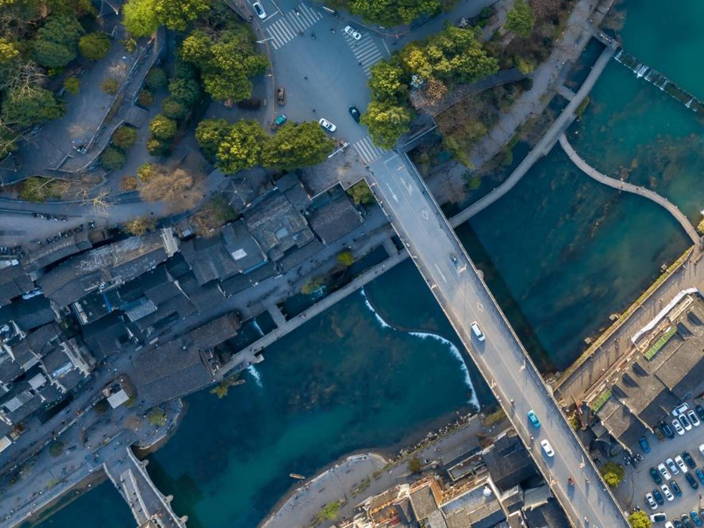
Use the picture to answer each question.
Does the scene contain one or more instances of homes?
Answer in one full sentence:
Yes, a home can be made out from above.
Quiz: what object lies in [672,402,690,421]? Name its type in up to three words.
car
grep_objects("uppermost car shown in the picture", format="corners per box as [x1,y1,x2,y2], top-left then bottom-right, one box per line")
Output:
[252,1,266,19]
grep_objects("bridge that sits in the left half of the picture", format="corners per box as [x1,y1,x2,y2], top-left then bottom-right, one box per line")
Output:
[102,445,193,528]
